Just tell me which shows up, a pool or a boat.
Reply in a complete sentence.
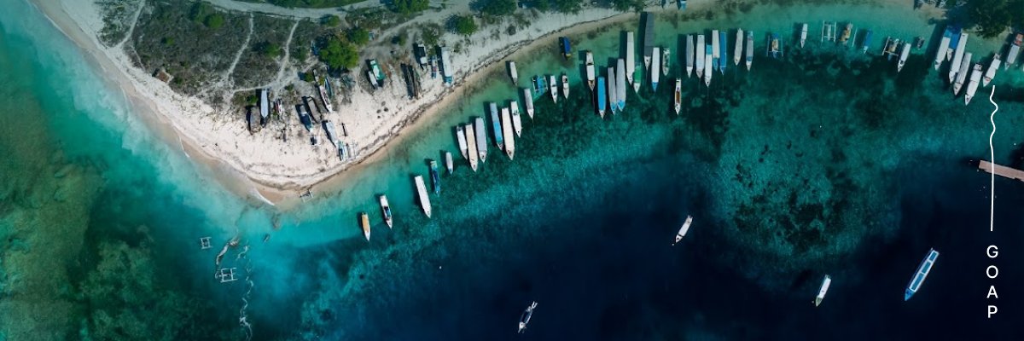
This aerial view contains a boat.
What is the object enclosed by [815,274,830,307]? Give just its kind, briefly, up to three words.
boat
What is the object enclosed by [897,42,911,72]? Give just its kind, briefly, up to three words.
boat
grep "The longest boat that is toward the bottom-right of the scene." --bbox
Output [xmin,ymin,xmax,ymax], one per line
[904,249,938,301]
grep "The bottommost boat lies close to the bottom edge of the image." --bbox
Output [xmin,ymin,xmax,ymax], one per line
[518,301,537,335]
